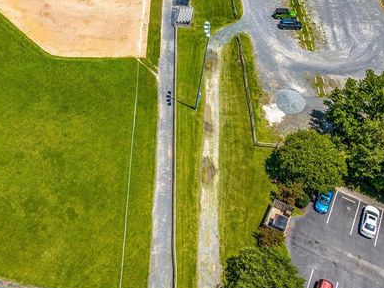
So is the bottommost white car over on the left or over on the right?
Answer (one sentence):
You can find the bottommost white car on the right side of the picture.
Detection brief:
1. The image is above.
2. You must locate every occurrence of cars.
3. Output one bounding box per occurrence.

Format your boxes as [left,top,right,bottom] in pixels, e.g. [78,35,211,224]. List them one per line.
[272,7,296,20]
[276,18,304,32]
[316,272,336,288]
[358,204,381,240]
[313,187,335,217]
